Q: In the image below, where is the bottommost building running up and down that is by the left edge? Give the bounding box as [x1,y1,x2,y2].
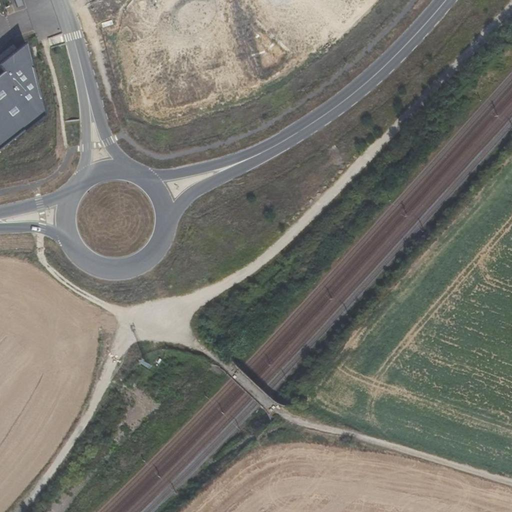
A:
[0,43,48,149]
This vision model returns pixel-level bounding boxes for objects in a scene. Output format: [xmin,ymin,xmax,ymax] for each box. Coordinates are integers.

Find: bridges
[216,354,287,419]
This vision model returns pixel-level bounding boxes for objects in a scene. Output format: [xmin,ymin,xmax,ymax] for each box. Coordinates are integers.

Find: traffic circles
[56,158,176,280]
